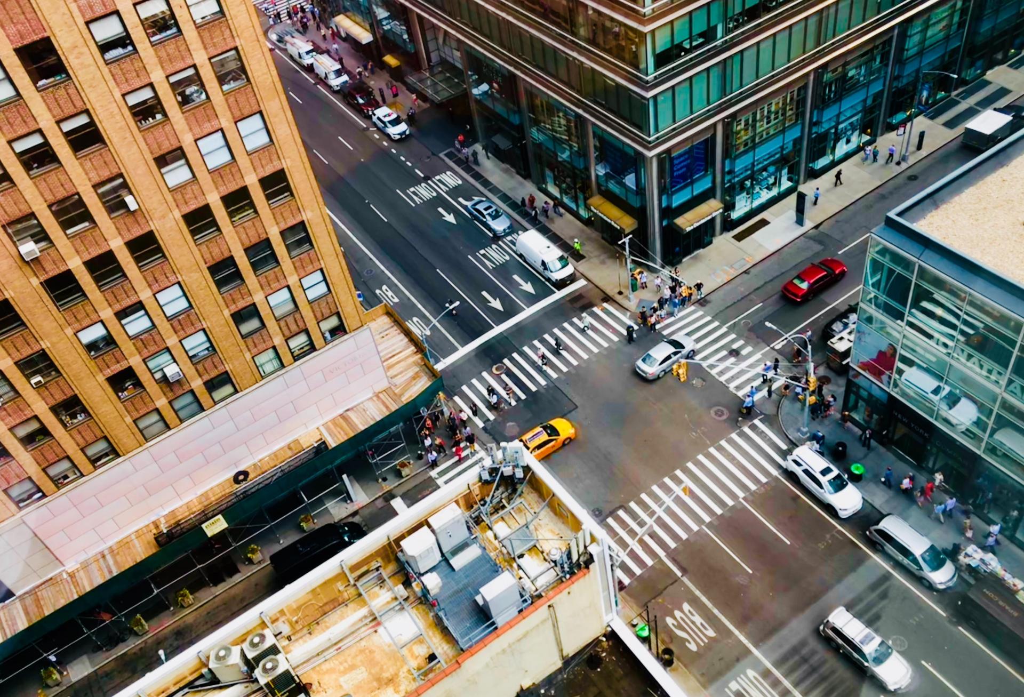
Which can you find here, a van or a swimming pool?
van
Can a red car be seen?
Yes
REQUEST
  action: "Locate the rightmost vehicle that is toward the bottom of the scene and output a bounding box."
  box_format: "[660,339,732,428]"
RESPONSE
[975,580,1024,659]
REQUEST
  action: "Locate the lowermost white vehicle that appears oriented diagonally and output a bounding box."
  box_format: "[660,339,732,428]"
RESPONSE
[829,611,921,697]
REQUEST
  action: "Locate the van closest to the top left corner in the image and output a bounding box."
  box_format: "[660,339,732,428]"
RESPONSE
[283,31,318,66]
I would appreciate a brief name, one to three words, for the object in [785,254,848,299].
car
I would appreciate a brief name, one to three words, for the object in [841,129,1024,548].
building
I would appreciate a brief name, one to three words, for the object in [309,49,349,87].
van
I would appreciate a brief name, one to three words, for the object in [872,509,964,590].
car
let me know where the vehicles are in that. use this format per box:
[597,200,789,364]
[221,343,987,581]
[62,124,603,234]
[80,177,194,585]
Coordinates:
[514,222,575,281]
[829,611,921,697]
[637,330,700,378]
[785,254,848,299]
[469,197,514,234]
[264,515,366,585]
[958,107,1023,160]
[827,299,858,334]
[343,78,379,111]
[872,509,964,590]
[1008,104,1024,128]
[525,419,577,460]
[371,104,409,137]
[309,49,349,87]
[789,445,868,514]
[283,31,318,66]
[975,580,1024,659]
